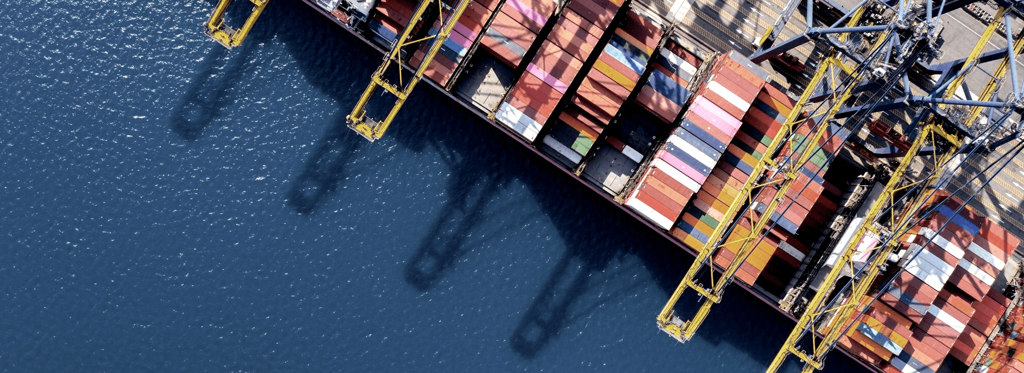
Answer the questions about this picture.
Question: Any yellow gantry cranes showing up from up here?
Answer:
Yes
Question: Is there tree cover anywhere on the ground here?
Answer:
No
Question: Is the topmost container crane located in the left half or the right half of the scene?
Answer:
left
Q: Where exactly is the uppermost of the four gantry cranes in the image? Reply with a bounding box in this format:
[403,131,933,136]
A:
[202,0,270,55]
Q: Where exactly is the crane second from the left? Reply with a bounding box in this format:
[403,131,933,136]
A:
[346,0,473,144]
